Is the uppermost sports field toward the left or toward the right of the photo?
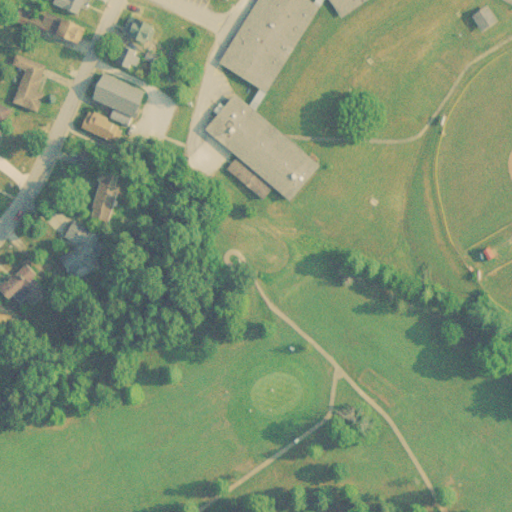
right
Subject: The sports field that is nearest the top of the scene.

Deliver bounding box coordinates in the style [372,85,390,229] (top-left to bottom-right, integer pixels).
[436,50,512,263]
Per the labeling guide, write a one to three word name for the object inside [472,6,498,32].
shed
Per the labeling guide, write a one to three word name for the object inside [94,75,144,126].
house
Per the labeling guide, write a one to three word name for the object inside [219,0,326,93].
building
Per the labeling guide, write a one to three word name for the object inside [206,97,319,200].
building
